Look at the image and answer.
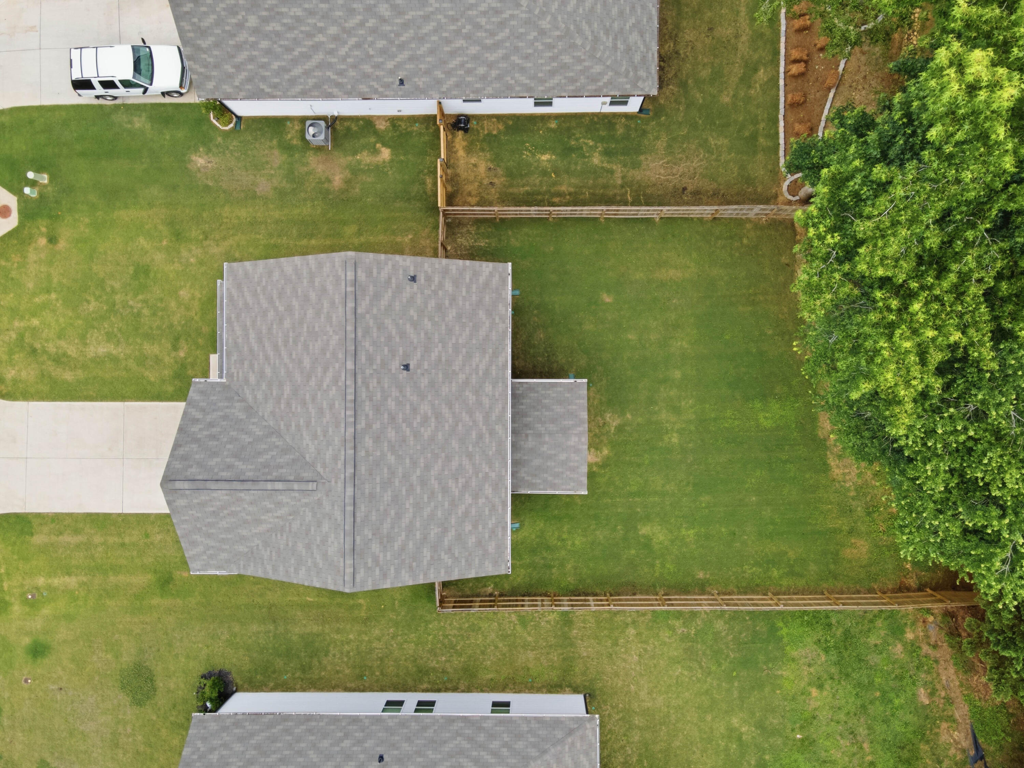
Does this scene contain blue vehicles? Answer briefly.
No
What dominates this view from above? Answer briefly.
grass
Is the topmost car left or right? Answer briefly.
left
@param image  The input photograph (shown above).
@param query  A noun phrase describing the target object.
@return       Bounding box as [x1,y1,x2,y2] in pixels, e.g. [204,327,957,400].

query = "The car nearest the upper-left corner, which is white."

[69,38,194,102]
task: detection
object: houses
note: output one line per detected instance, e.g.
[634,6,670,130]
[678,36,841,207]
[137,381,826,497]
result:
[171,0,659,118]
[162,252,588,593]
[181,688,599,768]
